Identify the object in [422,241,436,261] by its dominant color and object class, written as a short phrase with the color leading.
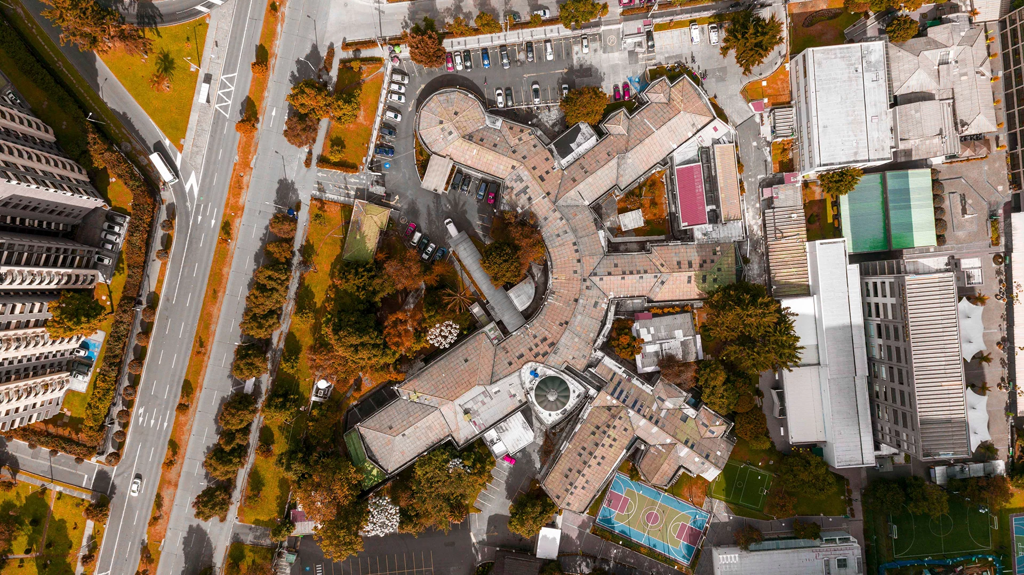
gray car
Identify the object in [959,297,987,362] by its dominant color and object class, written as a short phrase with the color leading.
white tent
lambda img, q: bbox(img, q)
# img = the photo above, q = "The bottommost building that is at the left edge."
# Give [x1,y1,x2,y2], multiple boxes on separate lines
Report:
[0,229,104,430]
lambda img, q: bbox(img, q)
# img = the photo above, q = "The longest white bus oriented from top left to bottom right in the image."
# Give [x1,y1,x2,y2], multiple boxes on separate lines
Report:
[149,150,183,189]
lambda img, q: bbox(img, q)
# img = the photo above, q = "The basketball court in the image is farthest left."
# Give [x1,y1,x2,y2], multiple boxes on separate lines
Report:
[594,473,711,567]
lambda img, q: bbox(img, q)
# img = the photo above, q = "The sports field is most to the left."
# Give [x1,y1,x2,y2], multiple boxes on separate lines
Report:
[709,460,774,513]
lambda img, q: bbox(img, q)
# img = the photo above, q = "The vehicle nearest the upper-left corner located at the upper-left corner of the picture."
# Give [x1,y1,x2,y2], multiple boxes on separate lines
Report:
[5,92,23,108]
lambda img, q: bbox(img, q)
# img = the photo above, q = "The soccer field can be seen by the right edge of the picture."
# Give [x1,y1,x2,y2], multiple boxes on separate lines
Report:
[891,479,1013,573]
